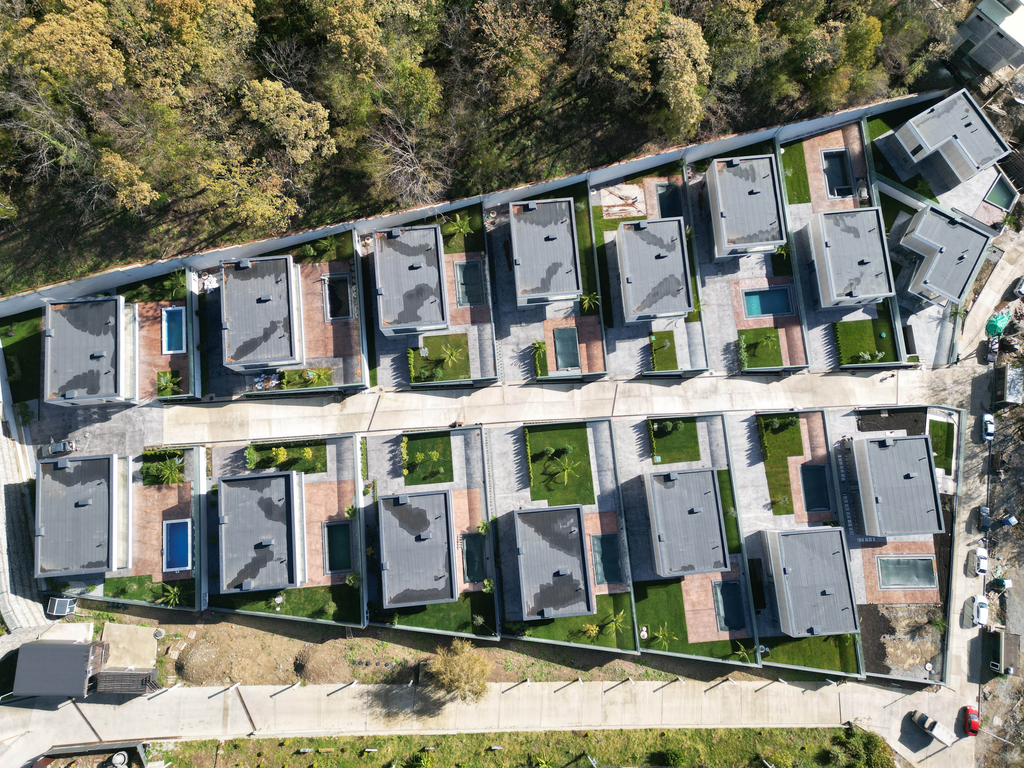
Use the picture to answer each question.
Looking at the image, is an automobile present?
Yes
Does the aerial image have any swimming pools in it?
Yes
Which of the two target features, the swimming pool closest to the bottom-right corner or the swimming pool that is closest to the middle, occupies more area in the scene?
the swimming pool closest to the bottom-right corner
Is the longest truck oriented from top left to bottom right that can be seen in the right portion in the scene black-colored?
No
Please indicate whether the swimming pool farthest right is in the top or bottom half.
top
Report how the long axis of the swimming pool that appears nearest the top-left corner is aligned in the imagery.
from top to bottom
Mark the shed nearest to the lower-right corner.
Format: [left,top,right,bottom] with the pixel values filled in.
[992,629,1023,676]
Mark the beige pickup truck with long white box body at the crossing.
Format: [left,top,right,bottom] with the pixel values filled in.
[911,711,966,754]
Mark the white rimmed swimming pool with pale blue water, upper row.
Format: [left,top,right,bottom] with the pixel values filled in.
[161,306,186,354]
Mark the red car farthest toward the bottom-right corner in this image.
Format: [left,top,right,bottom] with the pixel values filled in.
[962,704,981,737]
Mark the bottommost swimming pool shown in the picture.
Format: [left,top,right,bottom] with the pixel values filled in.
[712,579,746,632]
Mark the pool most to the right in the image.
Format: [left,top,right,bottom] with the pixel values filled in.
[984,173,1017,212]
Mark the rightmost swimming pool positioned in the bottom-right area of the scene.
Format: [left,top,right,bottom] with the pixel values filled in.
[875,554,939,590]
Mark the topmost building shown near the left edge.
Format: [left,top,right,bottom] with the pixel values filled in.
[43,295,140,407]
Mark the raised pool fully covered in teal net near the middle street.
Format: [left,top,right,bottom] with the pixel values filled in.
[554,327,581,368]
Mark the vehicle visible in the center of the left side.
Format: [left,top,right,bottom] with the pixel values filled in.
[43,441,78,457]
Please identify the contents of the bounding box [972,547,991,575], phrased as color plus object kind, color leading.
white car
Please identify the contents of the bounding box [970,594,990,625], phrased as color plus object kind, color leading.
white car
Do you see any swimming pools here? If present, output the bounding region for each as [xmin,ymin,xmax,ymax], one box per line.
[799,464,833,513]
[321,520,355,576]
[321,271,354,322]
[454,259,486,308]
[875,554,939,590]
[161,306,186,354]
[712,579,746,632]
[984,173,1017,212]
[740,284,797,318]
[819,147,857,201]
[554,327,581,368]
[461,533,487,583]
[656,180,684,219]
[591,533,624,586]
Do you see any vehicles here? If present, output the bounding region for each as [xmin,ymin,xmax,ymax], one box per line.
[1008,271,1024,303]
[983,336,1000,366]
[962,704,981,737]
[972,547,991,575]
[109,740,140,768]
[975,505,993,532]
[43,441,78,457]
[970,594,990,625]
[978,413,995,441]
[911,711,966,754]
